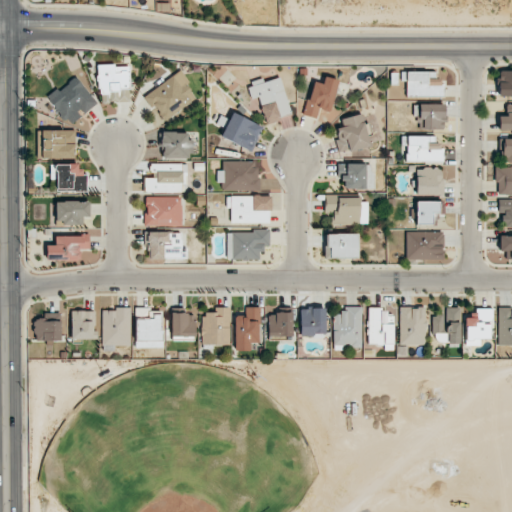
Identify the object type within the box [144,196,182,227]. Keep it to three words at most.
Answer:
house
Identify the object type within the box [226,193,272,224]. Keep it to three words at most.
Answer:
house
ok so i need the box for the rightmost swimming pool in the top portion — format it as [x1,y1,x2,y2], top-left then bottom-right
[398,174,410,192]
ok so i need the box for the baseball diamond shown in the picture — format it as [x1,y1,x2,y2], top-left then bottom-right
[39,364,318,512]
